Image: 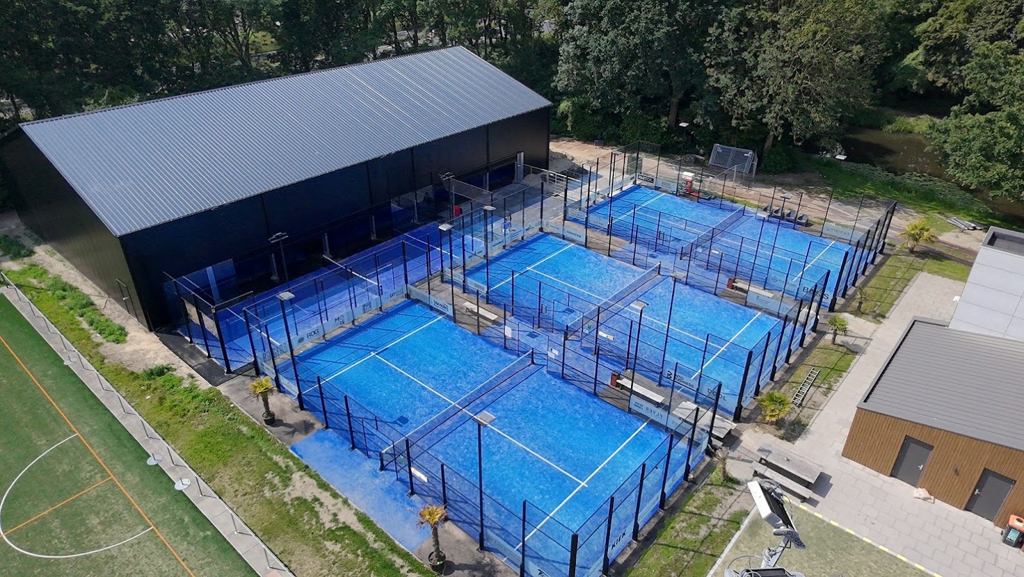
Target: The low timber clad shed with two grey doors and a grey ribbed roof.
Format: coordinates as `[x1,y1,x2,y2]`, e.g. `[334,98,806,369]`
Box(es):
[841,316,1024,536]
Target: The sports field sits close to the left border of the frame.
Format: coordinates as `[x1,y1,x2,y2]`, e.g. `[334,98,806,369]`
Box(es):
[0,290,249,577]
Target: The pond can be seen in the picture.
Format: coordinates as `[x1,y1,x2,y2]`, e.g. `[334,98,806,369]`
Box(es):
[770,73,1024,223]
